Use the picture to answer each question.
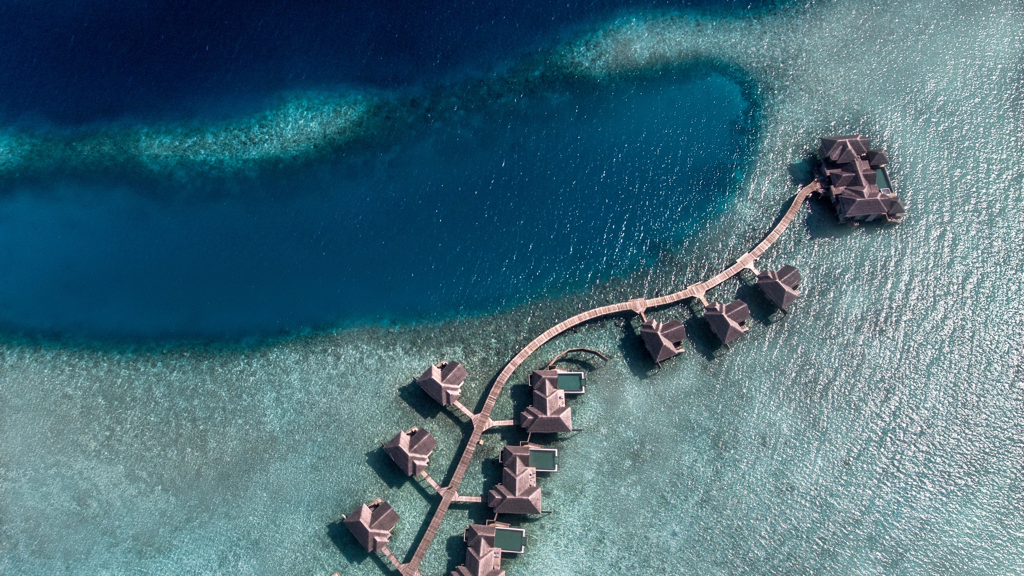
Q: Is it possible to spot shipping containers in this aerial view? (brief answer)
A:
No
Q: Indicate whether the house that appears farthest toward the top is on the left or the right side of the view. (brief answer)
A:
right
